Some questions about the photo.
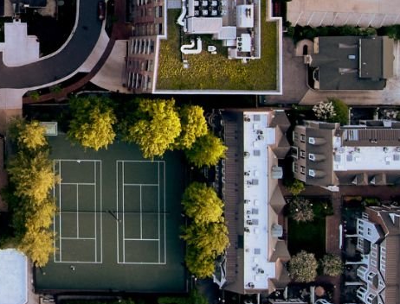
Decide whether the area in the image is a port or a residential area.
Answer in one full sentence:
This image shows a residential area.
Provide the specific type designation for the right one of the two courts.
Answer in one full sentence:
The right one of the two courts is a tennis court.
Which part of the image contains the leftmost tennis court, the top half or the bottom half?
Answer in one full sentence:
The bottom half of the photo is where the leftmost tennis court is.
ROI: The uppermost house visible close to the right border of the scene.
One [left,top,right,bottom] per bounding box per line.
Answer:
[294,36,394,90]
